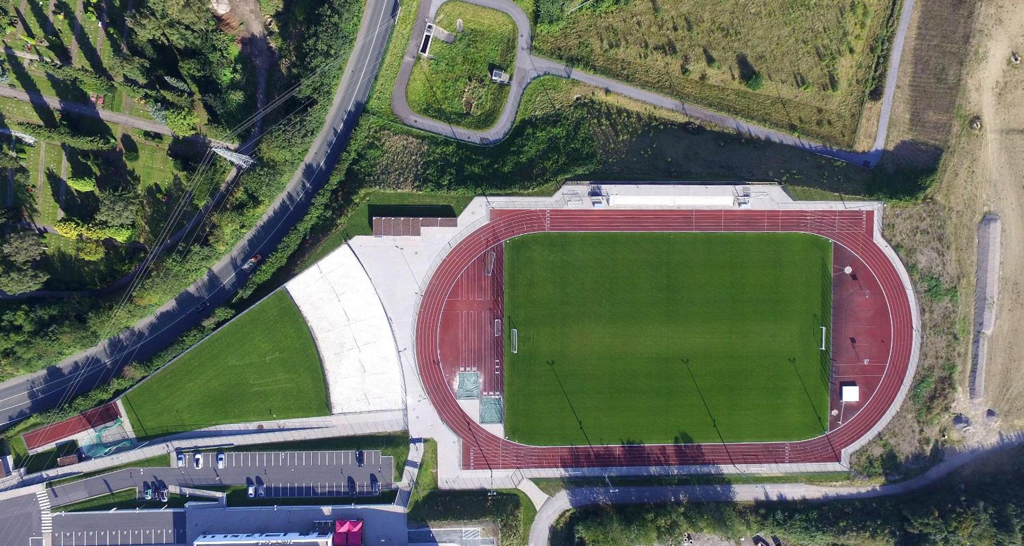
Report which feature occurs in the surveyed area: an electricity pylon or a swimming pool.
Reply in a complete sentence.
Looking from above, you can make out an electricity pylon.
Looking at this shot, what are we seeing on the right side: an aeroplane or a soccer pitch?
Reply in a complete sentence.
The one visible on the right side is a soccer pitch.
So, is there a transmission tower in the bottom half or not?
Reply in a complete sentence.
No, in the bottom half there is no transmission tower.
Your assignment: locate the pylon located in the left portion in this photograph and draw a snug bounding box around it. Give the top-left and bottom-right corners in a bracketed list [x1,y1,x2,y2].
[208,145,253,169]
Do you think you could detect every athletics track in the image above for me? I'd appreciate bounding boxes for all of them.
[415,209,916,471]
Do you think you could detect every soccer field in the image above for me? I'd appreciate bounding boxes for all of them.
[504,232,834,446]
